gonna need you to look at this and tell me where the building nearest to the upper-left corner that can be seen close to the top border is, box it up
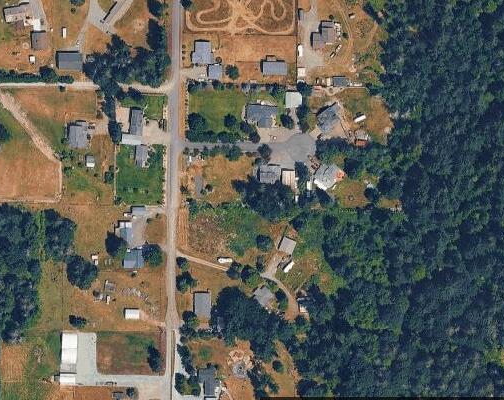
[4,4,32,29]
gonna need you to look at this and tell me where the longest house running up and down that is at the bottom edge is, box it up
[60,333,77,385]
